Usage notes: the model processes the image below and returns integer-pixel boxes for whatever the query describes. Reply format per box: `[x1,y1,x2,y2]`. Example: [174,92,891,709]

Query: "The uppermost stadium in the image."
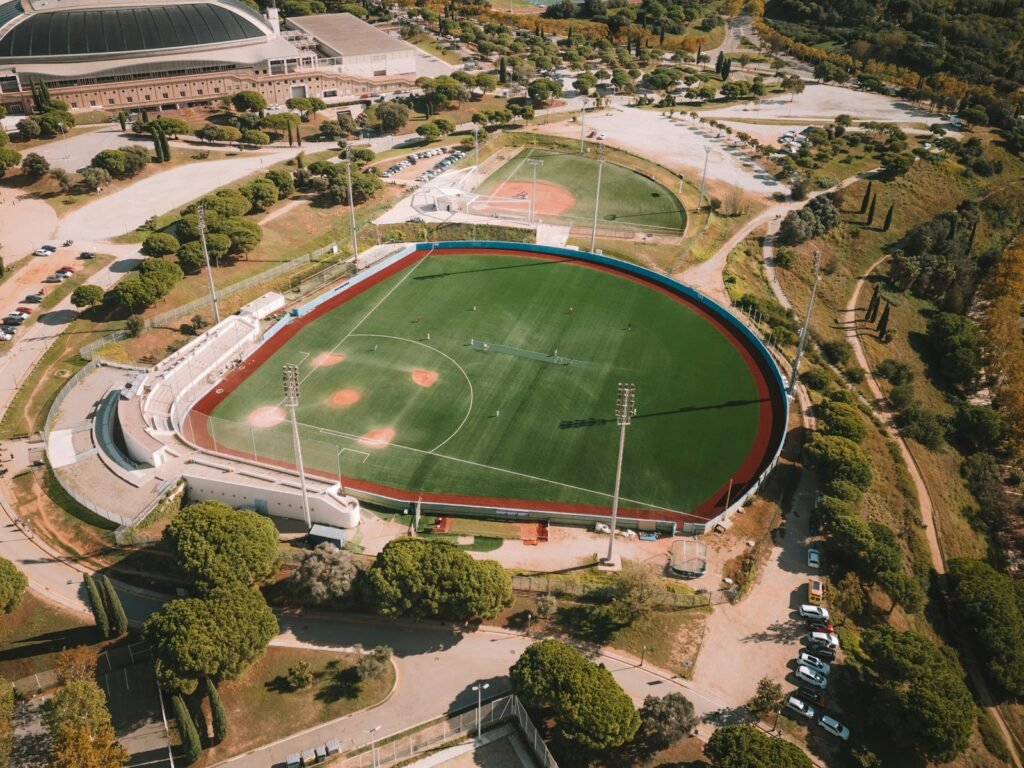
[0,0,414,128]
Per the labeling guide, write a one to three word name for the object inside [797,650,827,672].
car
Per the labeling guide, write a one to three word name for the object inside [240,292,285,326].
building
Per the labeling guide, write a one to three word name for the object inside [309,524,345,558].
shed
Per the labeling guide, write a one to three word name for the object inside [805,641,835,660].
car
